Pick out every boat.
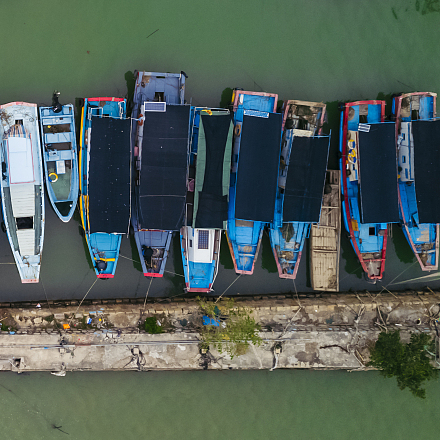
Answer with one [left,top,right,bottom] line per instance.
[130,71,190,277]
[0,102,45,283]
[180,106,234,292]
[388,92,440,270]
[39,97,79,218]
[226,89,282,273]
[269,99,331,277]
[332,101,400,278]
[77,97,131,278]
